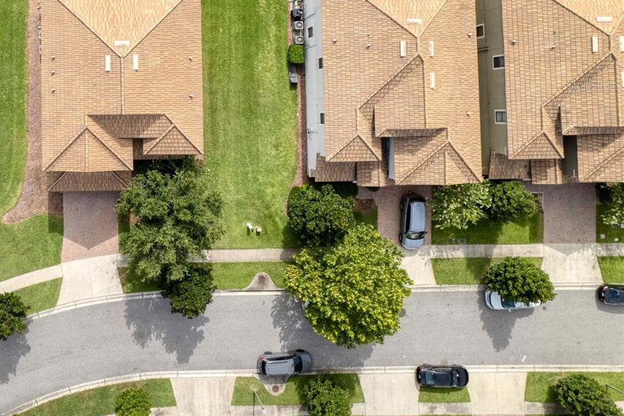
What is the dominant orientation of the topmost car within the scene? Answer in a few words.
up and down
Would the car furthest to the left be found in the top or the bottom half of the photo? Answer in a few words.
bottom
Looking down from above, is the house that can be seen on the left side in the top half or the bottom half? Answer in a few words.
top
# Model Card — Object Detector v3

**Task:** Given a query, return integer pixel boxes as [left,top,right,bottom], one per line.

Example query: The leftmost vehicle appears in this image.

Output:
[258,352,315,381]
